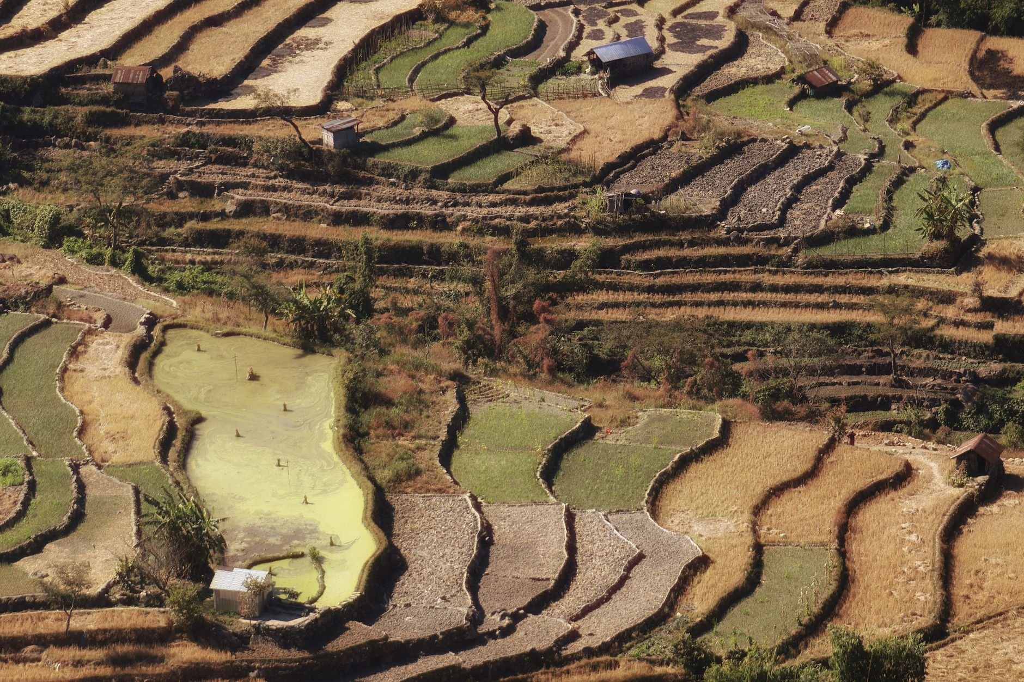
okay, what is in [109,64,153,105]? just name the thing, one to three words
shed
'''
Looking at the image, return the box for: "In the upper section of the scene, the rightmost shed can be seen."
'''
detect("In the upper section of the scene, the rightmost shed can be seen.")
[799,64,841,100]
